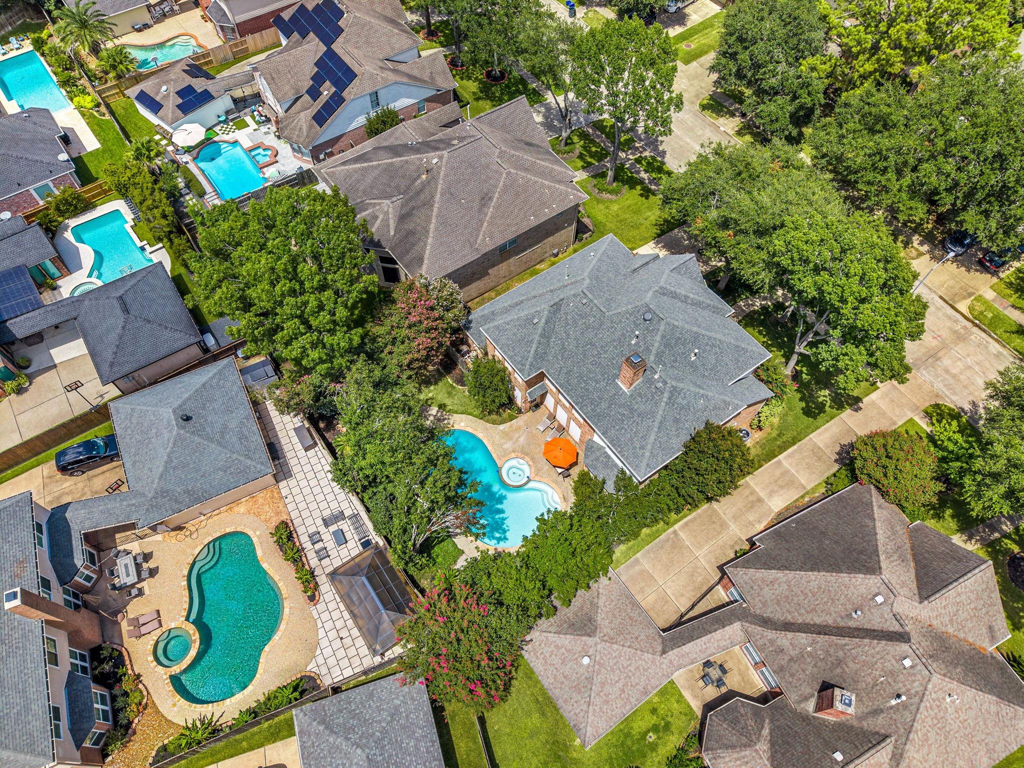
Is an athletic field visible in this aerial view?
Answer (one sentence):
No, there's no athletic field here.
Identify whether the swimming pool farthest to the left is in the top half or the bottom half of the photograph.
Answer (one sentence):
You can find the swimming pool farthest to the left in the top half.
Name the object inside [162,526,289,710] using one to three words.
swimming pool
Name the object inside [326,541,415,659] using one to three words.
gazebo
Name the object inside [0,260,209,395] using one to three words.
building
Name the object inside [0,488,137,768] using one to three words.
building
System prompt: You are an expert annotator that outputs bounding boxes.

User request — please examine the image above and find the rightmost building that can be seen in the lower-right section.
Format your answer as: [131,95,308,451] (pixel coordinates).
[697,479,1024,768]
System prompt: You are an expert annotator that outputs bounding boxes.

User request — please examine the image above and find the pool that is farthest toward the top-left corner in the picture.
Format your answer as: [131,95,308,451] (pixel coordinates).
[0,48,73,113]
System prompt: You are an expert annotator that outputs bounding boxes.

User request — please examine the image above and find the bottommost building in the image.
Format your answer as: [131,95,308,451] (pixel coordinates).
[292,672,447,768]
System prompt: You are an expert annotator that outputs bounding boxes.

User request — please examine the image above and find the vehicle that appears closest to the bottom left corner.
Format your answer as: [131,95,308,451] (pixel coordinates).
[51,430,119,477]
